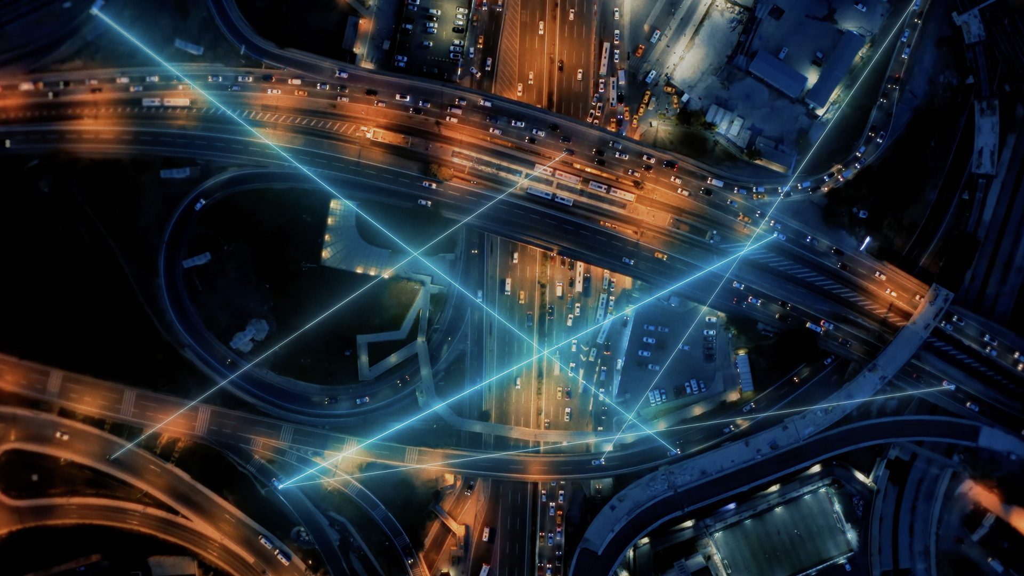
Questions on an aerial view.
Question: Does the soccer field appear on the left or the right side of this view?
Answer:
right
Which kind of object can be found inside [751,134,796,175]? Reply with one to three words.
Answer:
building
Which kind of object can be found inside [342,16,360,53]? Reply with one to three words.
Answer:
shed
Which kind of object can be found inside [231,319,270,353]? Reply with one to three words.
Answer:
building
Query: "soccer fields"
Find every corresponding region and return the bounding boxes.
[713,492,855,576]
